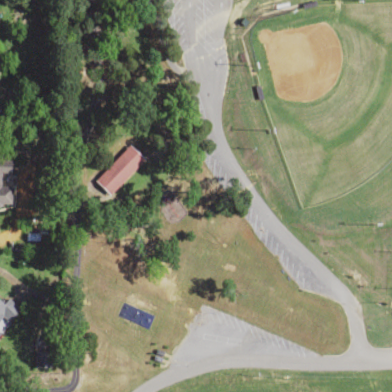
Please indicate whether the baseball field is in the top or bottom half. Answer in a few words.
top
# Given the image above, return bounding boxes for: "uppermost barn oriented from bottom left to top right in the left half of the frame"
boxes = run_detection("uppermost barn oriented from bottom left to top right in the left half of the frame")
[96,143,145,196]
